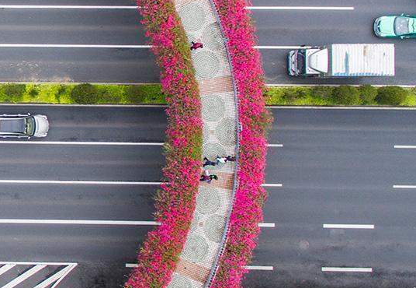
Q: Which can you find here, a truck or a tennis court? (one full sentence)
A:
Of the two, only a truck appears.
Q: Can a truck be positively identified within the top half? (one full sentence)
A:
Yes, within the top half there is a truck.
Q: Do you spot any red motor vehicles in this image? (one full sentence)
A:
No, this view has no red motor vehicle in it.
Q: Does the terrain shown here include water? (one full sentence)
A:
No, there's no water in this view.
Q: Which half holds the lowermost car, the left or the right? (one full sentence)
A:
The lowermost car is on the left side of the image.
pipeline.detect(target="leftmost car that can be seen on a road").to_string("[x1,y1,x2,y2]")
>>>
[0,112,47,139]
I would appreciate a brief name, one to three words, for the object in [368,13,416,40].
car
